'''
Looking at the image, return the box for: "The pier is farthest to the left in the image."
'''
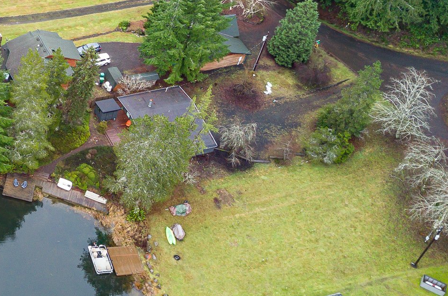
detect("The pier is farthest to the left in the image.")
[2,173,36,205]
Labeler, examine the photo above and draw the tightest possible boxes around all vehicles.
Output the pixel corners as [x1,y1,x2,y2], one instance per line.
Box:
[93,51,115,66]
[78,41,103,56]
